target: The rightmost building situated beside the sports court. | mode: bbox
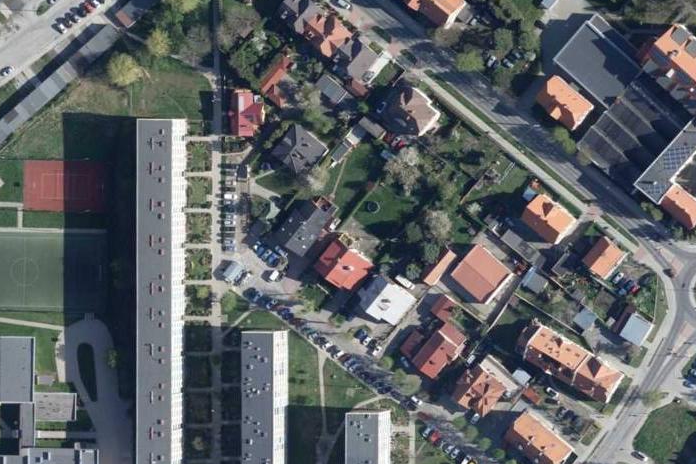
[131,117,192,464]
